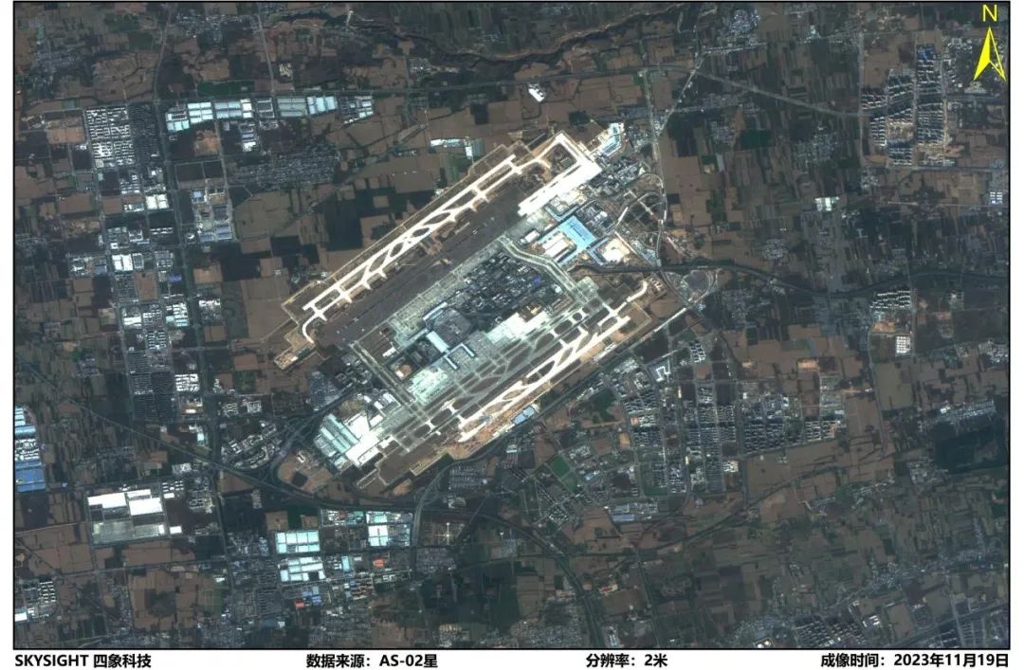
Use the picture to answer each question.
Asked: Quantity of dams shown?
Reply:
0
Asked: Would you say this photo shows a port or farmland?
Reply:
farmland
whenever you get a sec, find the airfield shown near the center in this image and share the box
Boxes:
[275,126,722,487]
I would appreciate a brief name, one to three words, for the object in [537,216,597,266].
building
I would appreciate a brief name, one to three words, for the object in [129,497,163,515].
building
